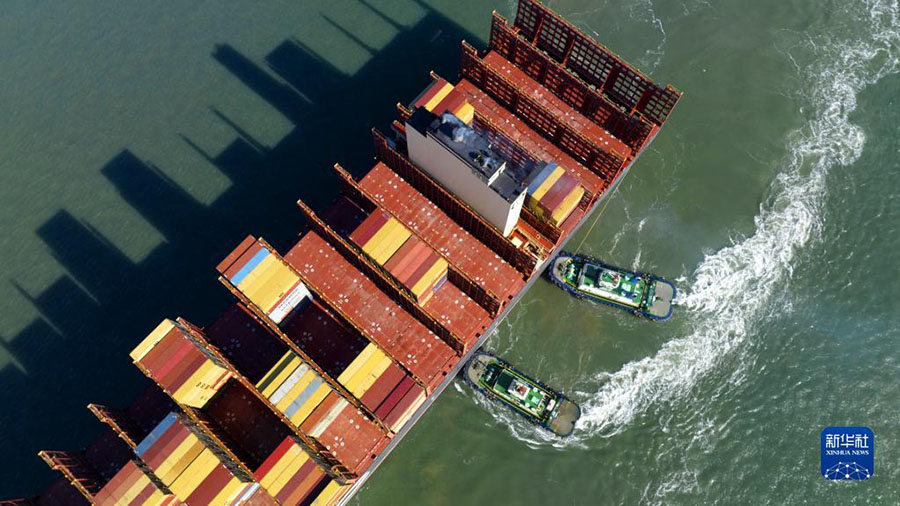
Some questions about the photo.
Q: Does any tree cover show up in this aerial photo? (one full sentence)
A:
No, tree cover can't be seen anywhere here.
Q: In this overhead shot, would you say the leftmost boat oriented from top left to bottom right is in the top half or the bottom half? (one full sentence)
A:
The leftmost boat oriented from top left to bottom right is in the bottom half of the image.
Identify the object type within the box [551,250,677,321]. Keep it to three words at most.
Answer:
boat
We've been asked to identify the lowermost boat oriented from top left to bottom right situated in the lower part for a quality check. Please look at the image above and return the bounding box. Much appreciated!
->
[465,352,584,443]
